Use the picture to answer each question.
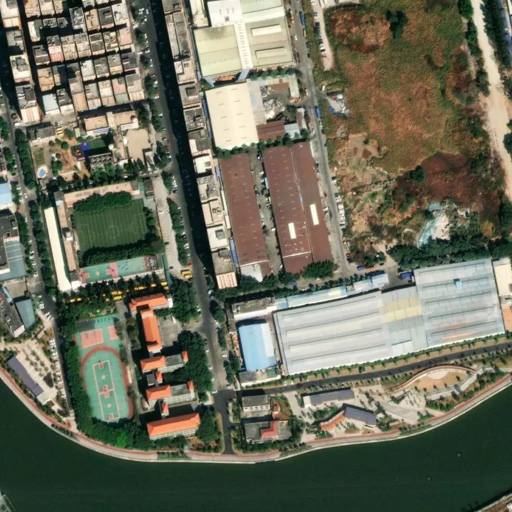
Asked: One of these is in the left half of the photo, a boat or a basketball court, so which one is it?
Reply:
basketball court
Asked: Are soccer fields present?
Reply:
Yes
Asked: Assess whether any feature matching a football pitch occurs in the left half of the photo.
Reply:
Yes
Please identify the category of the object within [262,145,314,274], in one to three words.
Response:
building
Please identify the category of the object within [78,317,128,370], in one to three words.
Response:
basketball court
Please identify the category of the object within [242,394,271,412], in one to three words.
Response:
house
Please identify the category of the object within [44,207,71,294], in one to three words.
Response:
shed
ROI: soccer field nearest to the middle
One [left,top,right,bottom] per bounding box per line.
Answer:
[76,198,150,255]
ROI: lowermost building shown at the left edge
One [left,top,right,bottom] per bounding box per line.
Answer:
[8,356,44,398]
